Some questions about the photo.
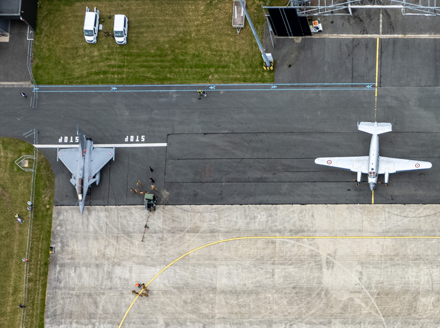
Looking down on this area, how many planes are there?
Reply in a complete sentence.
Looking from above, you can make out 2 planes.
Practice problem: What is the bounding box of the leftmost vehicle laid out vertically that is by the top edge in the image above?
[82,9,97,43]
